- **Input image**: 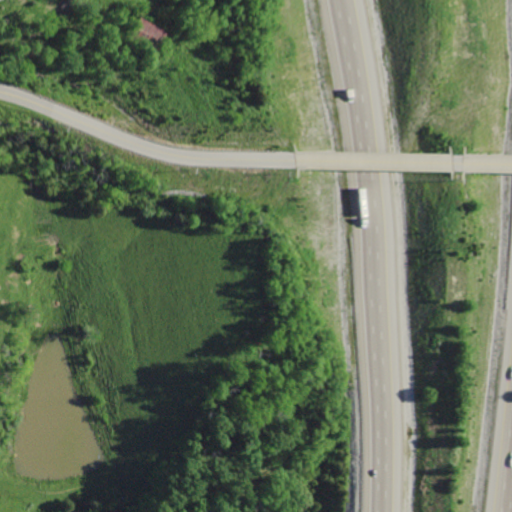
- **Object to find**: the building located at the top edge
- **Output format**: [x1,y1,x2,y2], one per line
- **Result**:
[135,16,168,44]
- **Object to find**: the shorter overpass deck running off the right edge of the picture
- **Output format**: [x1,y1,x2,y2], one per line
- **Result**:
[463,146,512,182]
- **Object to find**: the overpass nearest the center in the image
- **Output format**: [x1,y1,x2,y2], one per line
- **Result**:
[296,144,452,178]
